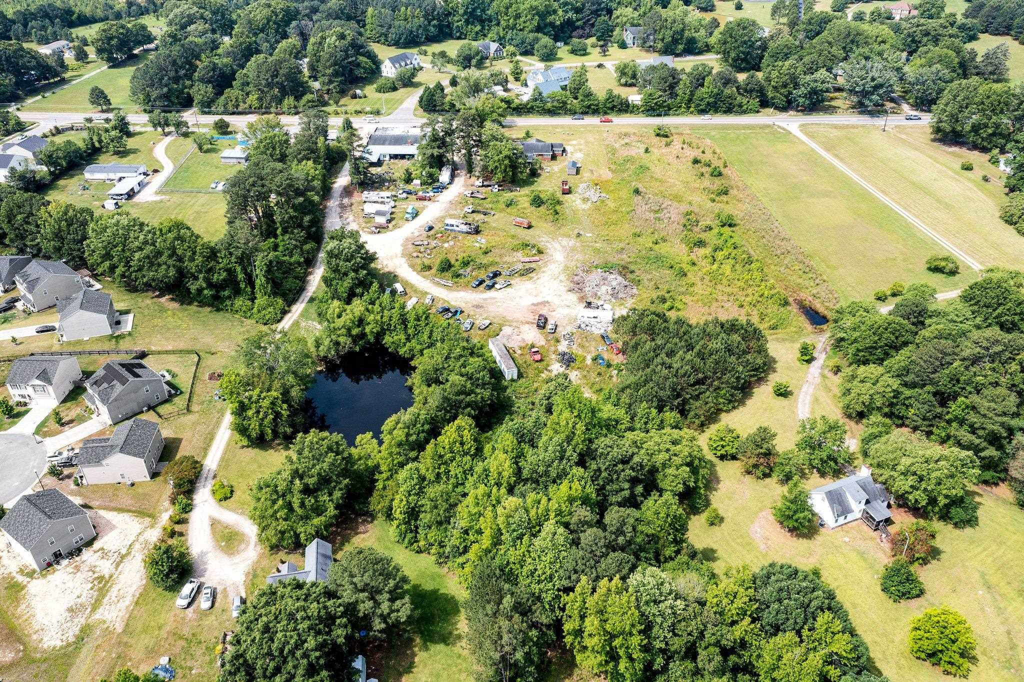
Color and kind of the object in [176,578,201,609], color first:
white truck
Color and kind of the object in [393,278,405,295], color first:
white vehicle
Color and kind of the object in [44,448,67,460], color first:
white vehicle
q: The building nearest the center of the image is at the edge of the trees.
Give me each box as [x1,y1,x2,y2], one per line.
[578,305,615,328]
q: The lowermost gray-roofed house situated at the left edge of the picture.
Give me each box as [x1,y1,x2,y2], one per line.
[3,491,96,571]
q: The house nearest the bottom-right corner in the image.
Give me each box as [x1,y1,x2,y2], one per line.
[803,451,903,532]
